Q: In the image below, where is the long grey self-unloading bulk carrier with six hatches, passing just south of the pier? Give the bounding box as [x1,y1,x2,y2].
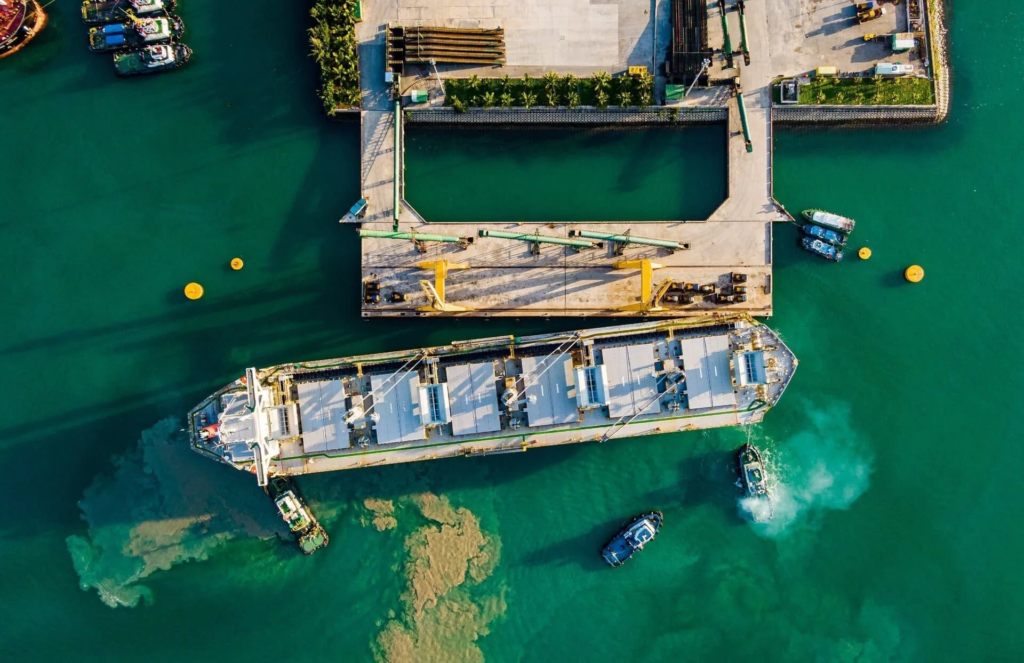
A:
[185,311,799,486]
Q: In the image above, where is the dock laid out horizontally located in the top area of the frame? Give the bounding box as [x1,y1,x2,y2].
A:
[340,108,794,321]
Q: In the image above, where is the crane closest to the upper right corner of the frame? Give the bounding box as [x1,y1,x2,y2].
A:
[608,256,675,314]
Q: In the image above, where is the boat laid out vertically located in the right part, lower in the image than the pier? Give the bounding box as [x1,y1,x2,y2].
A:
[740,442,774,523]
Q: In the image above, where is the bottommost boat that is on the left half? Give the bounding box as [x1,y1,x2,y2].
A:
[268,476,330,558]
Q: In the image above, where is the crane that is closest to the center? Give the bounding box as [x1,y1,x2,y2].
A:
[414,256,476,314]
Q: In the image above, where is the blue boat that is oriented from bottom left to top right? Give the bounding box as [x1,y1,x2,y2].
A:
[599,511,664,570]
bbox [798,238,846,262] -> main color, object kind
blue boat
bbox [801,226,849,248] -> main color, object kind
blue boat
